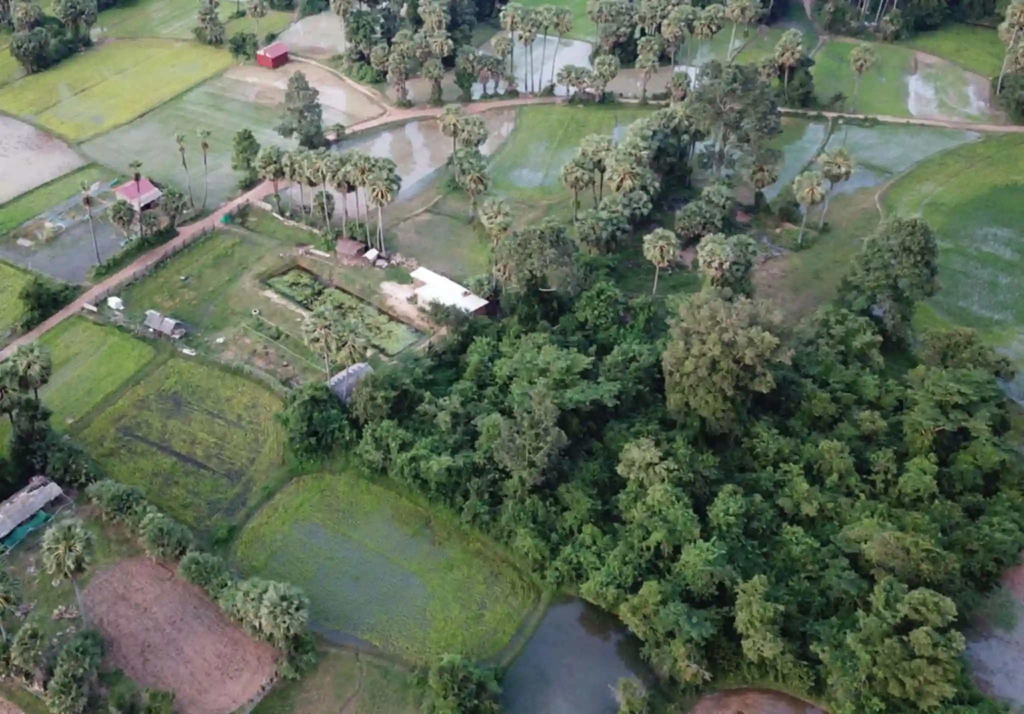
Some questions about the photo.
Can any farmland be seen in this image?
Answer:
Yes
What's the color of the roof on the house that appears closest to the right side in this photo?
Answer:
white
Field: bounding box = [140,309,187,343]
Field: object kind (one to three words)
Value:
shed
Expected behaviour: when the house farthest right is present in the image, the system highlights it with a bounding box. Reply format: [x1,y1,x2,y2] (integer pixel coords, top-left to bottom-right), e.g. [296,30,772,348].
[403,264,485,333]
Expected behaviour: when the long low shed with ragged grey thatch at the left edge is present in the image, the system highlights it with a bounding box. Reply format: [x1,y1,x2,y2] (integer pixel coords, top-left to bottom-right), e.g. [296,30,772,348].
[0,480,72,542]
